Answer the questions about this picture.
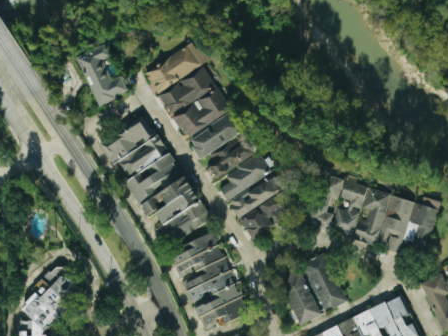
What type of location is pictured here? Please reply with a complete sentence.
This looks like a residential area.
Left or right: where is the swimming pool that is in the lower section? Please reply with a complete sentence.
The swimming pool that is in the lower section sits on the left side.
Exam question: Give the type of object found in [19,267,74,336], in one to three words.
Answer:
house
